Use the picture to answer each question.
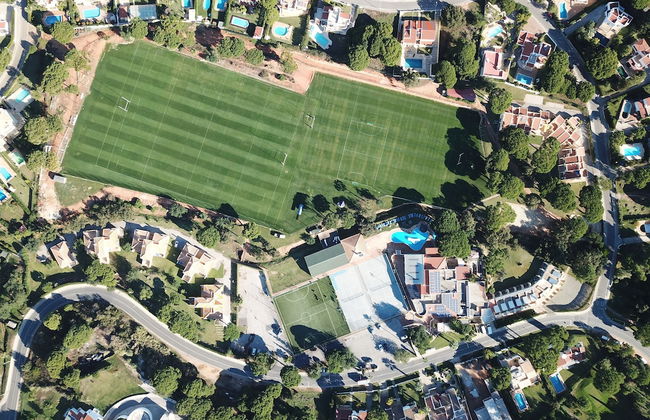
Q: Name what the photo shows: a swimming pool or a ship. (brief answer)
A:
swimming pool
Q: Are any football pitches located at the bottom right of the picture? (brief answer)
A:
No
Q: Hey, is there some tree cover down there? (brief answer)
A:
Yes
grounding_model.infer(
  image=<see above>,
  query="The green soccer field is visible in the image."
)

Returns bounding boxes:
[62,39,305,227]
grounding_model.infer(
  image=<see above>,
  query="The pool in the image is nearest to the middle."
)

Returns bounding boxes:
[390,227,430,252]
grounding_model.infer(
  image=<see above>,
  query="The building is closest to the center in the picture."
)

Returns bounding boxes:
[303,233,369,275]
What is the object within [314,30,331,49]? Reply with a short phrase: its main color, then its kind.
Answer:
blue swimming pool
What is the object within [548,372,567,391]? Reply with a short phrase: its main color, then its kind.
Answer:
blue swimming pool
